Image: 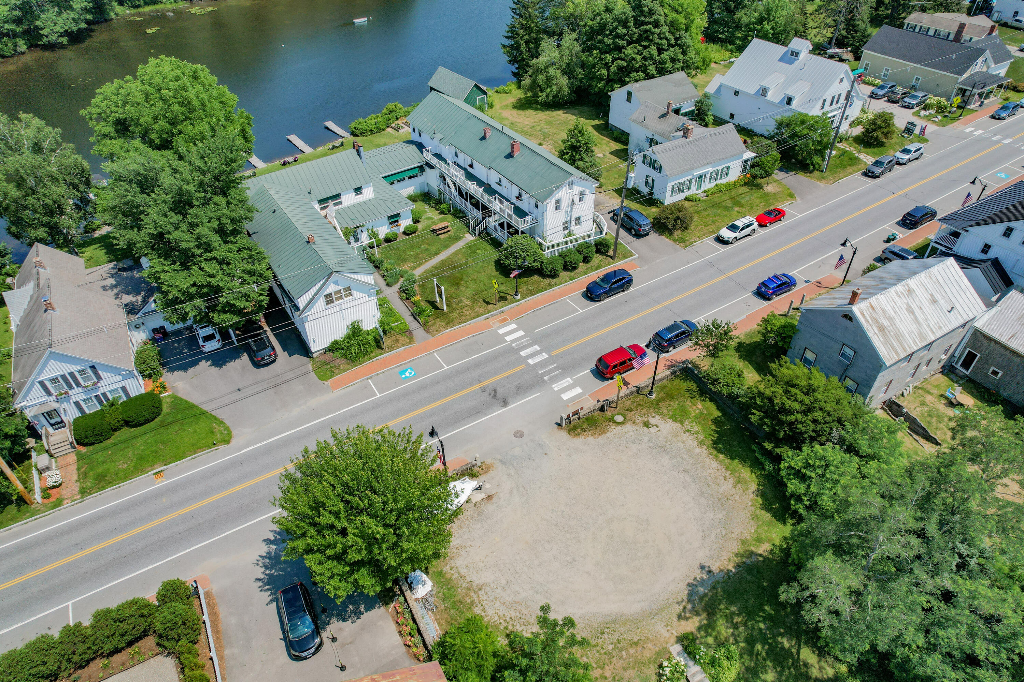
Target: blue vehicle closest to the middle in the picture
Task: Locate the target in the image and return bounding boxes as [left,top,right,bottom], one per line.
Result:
[585,269,635,302]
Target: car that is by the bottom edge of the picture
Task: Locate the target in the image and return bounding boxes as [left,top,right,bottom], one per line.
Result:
[276,581,326,668]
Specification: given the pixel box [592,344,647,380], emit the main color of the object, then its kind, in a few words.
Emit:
red car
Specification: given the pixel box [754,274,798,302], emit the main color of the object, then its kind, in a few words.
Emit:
blue car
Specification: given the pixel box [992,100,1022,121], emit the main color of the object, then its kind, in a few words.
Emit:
blue car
